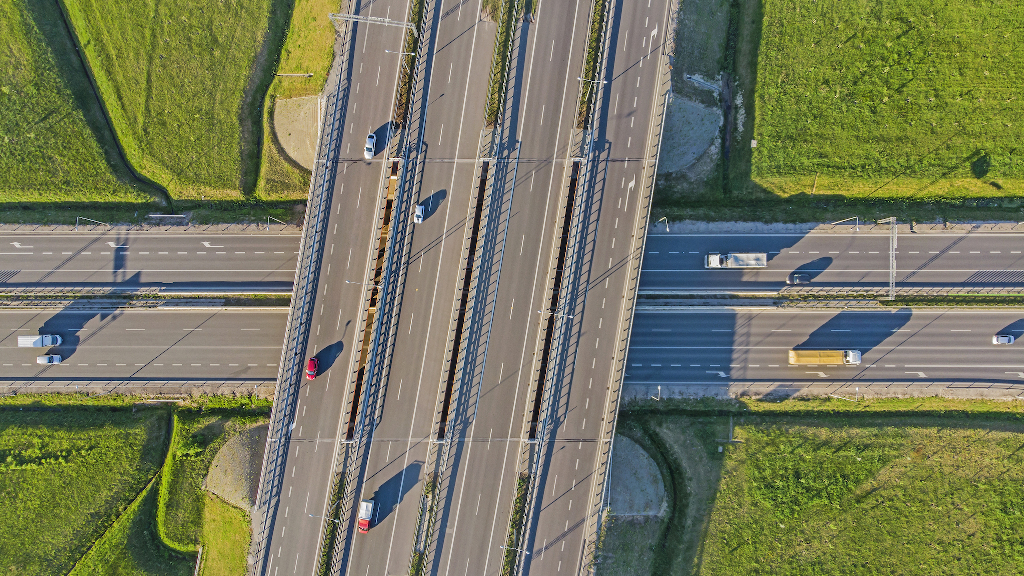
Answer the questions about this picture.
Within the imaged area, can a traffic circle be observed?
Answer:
No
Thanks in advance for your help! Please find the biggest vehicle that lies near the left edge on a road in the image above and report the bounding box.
[17,335,63,347]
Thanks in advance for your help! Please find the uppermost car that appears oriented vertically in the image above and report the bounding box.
[365,134,377,159]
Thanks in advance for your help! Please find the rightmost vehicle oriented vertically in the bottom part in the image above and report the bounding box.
[357,498,374,534]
